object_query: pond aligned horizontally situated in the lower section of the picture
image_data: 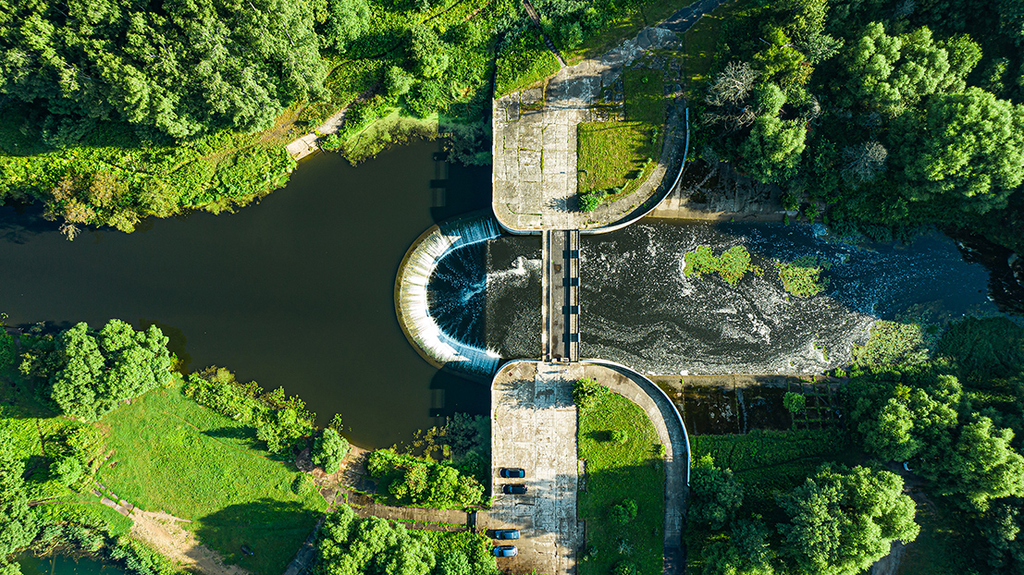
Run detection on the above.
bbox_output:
[14,548,130,575]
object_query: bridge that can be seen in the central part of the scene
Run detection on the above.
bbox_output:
[542,230,580,362]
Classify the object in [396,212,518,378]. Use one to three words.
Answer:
dam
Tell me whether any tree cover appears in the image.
Yes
